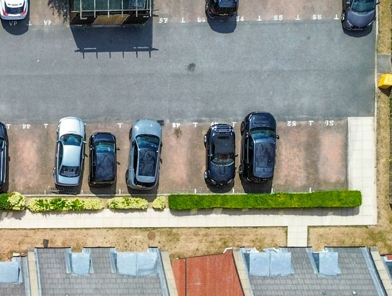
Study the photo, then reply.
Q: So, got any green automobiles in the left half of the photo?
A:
No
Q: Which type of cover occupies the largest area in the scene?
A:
paved ground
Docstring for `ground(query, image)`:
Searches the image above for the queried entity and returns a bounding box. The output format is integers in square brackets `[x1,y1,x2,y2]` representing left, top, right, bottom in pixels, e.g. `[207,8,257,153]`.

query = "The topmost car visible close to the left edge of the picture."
[0,0,29,21]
